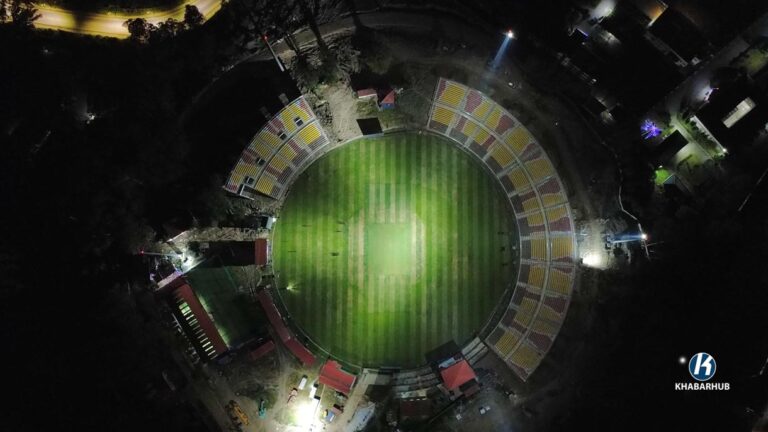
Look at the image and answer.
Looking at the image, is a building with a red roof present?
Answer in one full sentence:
Yes, there's a building with a red roof here.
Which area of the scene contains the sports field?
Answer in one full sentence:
The sports field sits in the center section of the image.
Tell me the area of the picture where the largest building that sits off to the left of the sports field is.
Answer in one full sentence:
The largest building that sits off to the left of the sports field sits in the bottom left section of the image.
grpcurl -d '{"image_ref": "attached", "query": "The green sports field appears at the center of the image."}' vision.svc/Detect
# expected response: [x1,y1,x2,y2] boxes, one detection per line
[274,134,518,368]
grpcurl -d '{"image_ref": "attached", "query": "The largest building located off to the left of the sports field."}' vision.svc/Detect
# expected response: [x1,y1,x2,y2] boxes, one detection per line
[164,283,230,363]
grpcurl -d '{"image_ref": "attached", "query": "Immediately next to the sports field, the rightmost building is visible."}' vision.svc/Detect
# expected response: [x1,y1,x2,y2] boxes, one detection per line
[440,352,479,397]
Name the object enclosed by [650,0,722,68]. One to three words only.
house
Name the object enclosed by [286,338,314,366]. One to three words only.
building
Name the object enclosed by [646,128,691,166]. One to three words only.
house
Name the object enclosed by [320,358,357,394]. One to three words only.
building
